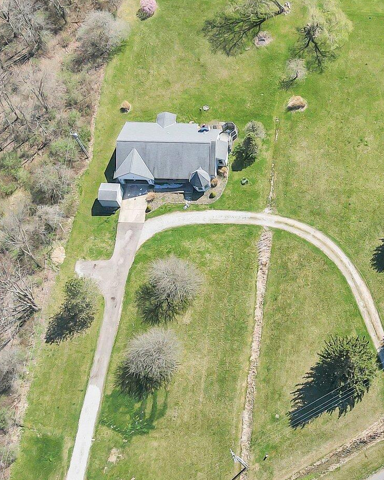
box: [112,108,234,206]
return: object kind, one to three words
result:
house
